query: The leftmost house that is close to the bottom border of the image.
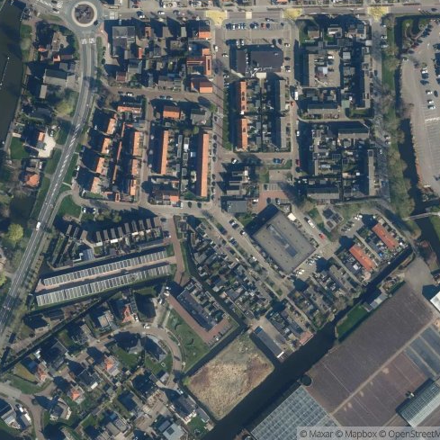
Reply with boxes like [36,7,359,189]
[0,398,20,424]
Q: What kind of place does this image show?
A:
residential area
